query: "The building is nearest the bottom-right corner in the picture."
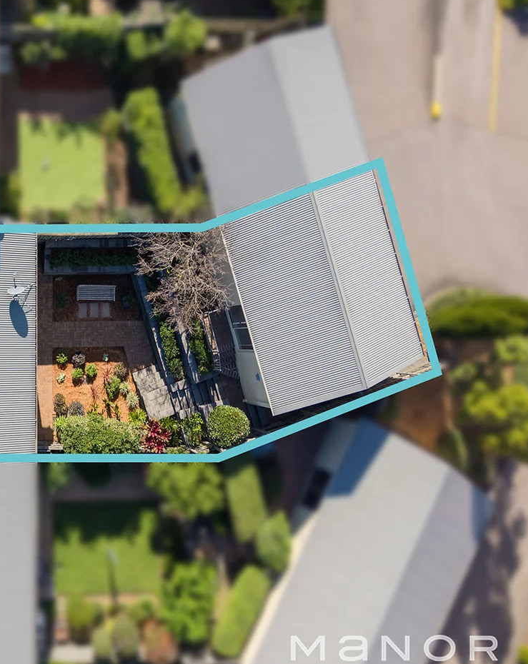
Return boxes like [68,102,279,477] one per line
[235,419,494,664]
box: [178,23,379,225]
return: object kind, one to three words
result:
building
